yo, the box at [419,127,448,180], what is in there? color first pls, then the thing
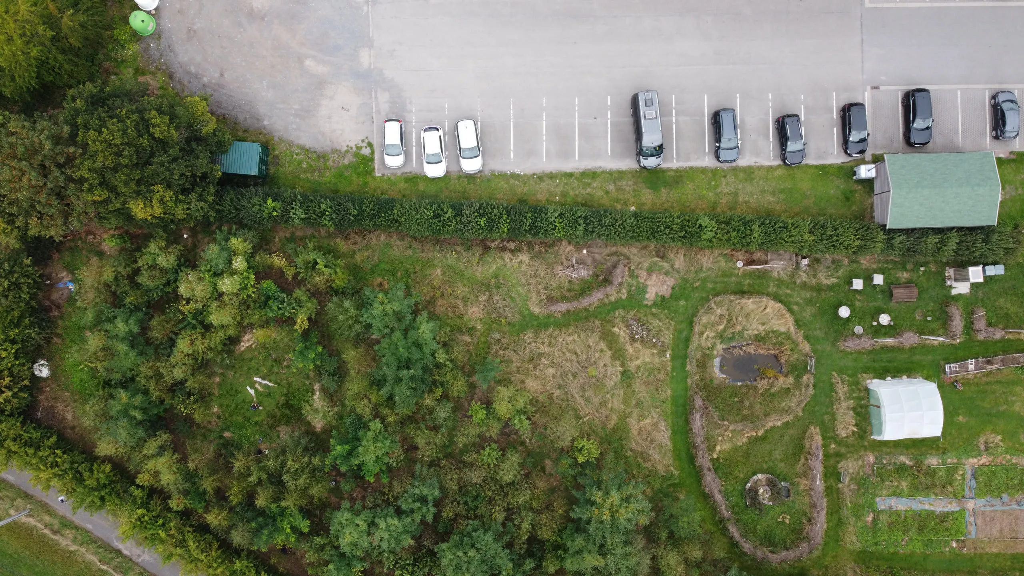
white car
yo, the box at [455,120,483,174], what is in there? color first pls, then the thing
white car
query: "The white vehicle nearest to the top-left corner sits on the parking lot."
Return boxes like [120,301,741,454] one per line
[380,119,407,169]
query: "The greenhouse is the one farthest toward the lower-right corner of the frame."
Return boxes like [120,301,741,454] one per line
[867,371,946,441]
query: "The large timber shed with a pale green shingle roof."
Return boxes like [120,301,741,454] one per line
[867,149,1004,231]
